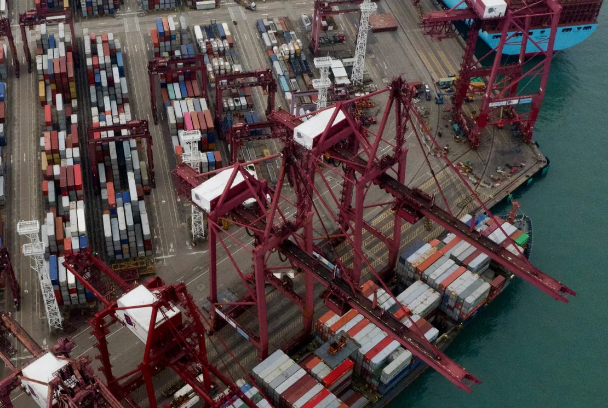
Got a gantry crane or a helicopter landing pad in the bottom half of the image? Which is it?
gantry crane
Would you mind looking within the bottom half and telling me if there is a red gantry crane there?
Yes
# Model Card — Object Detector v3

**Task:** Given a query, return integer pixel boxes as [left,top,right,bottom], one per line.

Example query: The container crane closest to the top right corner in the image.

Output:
[417,0,576,150]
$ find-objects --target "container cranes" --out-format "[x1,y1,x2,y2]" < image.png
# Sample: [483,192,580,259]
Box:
[0,18,18,77]
[65,246,283,408]
[272,74,582,303]
[0,300,121,408]
[417,0,576,150]
[15,8,80,72]
[148,55,212,123]
[0,244,18,314]
[85,120,156,193]
[168,146,479,402]
[230,103,294,166]
[214,66,275,133]
[309,0,365,57]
